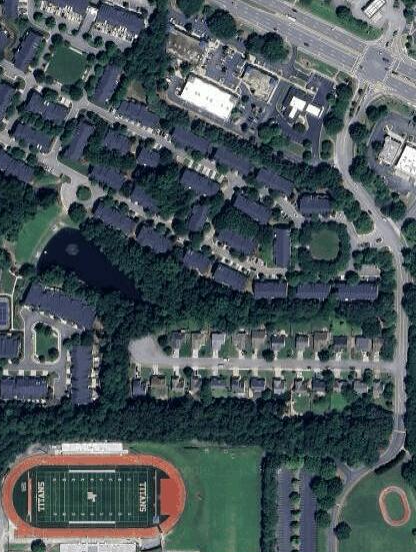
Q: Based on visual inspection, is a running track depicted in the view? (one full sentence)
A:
Yes, the photo shows a running track.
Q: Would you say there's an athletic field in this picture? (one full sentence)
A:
Yes, looking at the shot, I can spot an athletic field.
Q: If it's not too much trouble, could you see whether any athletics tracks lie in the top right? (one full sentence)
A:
No, the scene shows no athletics track in the top right.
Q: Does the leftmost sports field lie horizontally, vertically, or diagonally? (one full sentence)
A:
The leftmost sports field runs horizontally in the image.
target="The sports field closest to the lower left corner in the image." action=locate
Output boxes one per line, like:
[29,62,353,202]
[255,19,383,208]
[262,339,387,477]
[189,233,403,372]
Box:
[34,469,150,524]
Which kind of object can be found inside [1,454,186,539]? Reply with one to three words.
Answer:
running track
